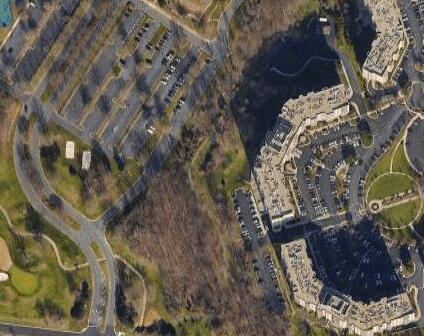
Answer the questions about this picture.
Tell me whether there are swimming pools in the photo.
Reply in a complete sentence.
No, there appears to be no swimming pool in this shot.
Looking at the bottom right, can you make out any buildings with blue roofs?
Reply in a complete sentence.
No, no building with a blue roof can be made out at the bottom right.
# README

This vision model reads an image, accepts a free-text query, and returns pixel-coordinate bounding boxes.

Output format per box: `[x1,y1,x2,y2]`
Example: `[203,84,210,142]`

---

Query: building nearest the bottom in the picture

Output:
[279,238,415,336]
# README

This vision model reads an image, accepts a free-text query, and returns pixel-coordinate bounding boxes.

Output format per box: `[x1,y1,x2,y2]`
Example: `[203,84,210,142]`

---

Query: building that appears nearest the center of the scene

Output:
[253,83,354,229]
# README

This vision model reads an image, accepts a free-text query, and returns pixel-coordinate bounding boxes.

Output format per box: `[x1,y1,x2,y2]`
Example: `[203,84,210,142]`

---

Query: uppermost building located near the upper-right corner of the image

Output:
[360,0,406,86]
